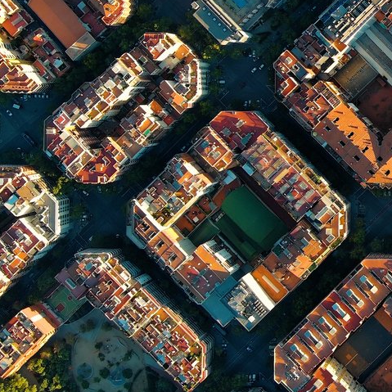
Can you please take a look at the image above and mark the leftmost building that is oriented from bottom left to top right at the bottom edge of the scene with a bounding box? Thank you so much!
[0,296,73,377]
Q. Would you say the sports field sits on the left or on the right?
right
